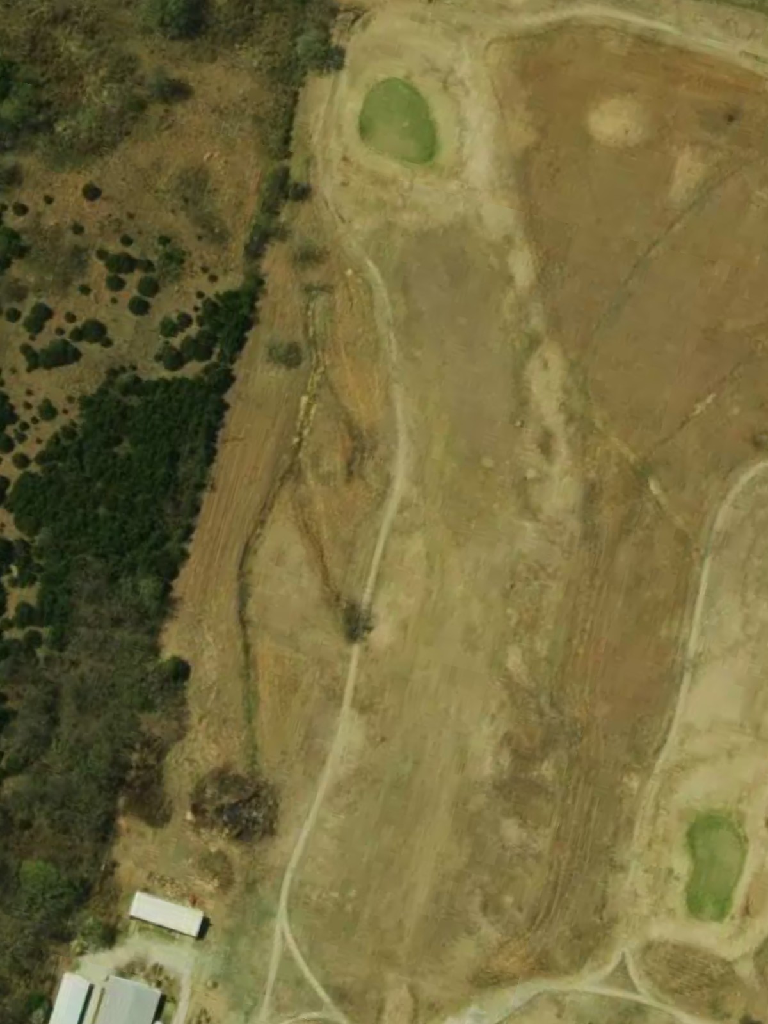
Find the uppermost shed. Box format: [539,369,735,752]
[129,893,203,938]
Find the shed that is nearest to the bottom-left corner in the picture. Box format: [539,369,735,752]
[48,969,91,1024]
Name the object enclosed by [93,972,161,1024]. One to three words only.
house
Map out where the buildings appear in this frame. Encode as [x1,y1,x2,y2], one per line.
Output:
[93,972,161,1024]
[129,893,203,938]
[48,969,91,1024]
